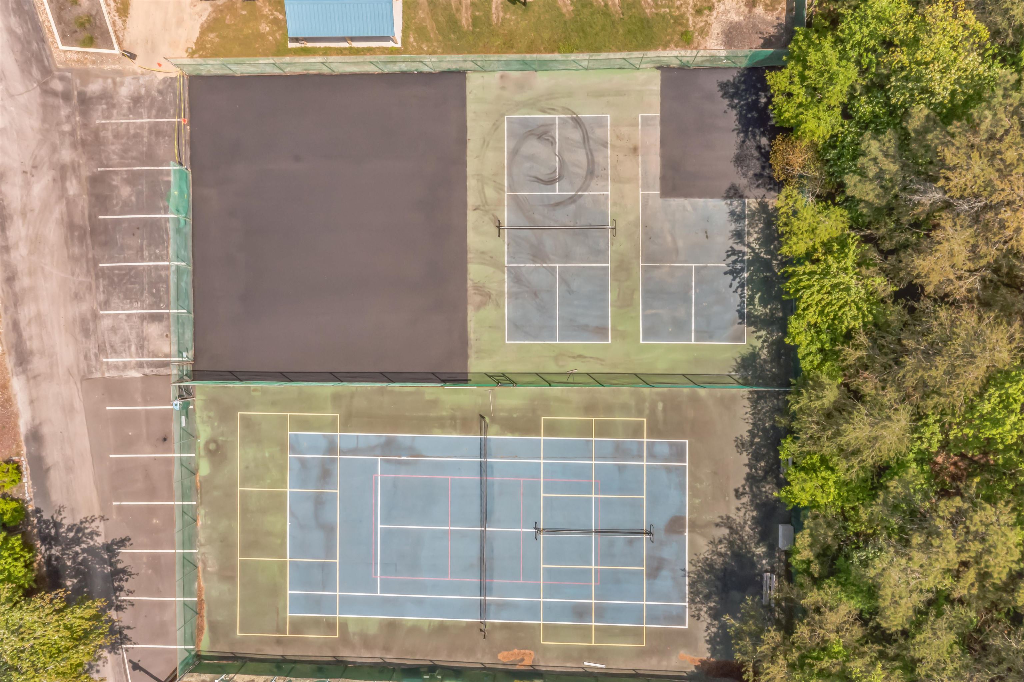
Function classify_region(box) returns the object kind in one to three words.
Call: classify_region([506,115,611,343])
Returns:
sports court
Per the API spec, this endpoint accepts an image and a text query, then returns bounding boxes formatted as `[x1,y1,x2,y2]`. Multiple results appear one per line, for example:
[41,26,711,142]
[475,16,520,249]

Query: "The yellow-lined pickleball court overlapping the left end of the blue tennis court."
[237,413,339,637]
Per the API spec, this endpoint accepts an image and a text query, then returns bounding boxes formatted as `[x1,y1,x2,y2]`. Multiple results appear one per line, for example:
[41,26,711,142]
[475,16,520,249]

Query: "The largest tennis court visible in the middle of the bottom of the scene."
[288,432,688,628]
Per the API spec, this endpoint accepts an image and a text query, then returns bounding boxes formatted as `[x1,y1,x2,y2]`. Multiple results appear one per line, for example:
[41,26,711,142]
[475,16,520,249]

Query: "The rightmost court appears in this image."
[640,114,747,344]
